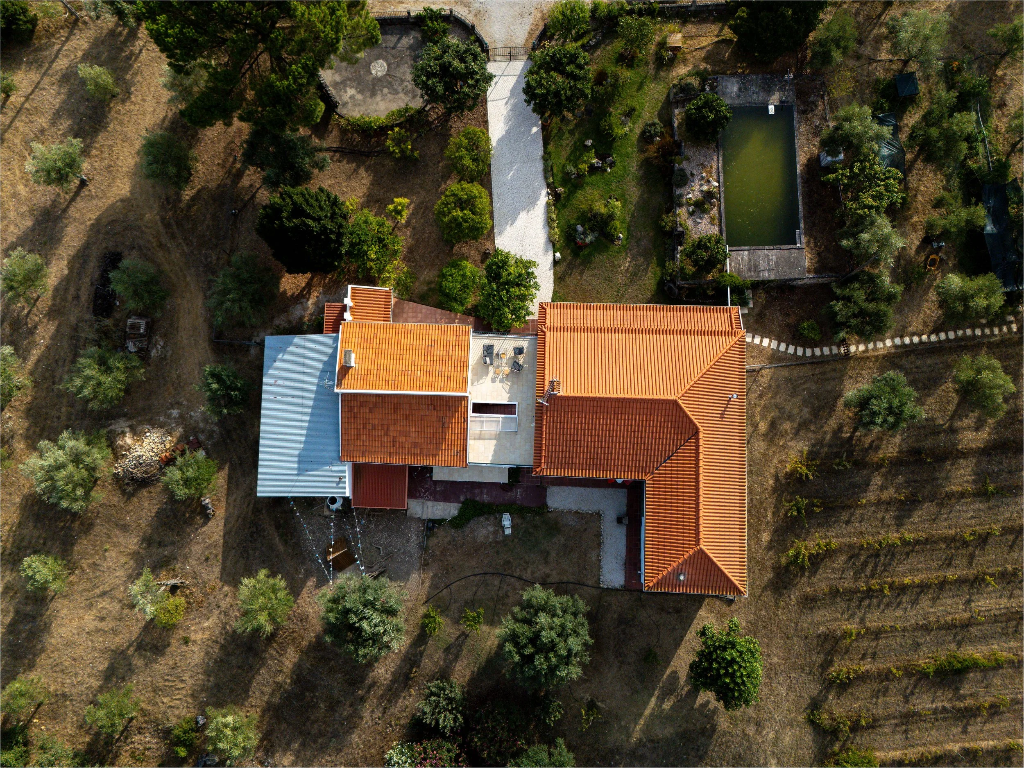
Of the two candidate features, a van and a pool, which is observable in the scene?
pool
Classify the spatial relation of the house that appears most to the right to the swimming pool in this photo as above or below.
below it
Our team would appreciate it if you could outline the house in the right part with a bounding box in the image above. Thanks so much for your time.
[533,301,750,603]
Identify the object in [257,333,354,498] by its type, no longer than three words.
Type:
shed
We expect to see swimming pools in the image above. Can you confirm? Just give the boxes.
[715,76,806,283]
